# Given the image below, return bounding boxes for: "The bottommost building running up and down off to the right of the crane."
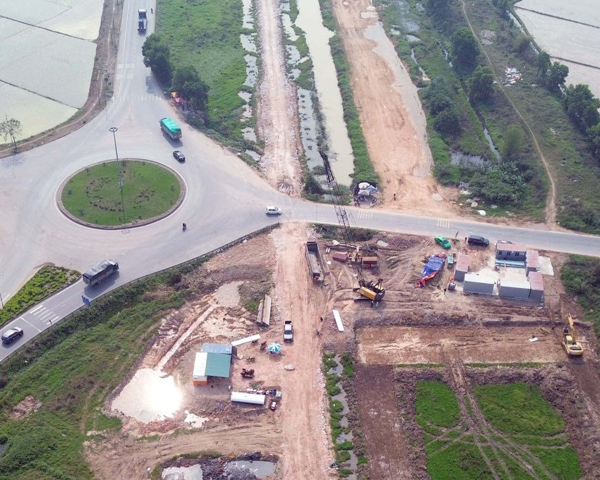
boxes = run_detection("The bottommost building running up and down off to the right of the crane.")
[531,273,546,303]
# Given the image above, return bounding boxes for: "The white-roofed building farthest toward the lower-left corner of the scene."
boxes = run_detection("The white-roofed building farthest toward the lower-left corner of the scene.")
[193,353,209,384]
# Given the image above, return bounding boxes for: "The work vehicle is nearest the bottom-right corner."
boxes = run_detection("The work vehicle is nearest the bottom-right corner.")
[559,312,586,362]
